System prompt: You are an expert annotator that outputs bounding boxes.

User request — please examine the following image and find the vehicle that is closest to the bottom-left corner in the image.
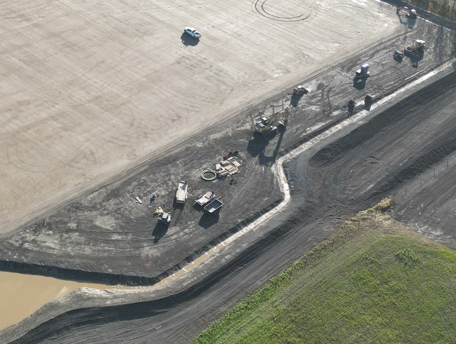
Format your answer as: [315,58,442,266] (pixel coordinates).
[157,213,172,225]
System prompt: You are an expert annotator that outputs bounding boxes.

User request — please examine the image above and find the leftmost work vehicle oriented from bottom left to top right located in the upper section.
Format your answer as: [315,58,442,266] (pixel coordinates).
[254,104,294,138]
